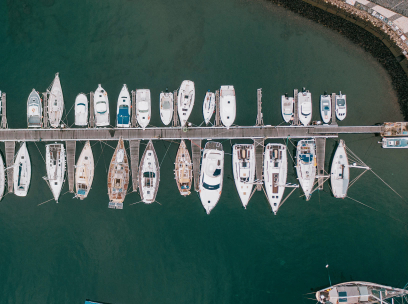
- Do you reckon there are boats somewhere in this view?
Yes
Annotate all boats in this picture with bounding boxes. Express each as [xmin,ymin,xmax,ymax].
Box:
[75,92,88,126]
[174,137,193,195]
[75,139,94,201]
[220,84,237,131]
[106,131,130,207]
[94,79,110,127]
[234,144,266,209]
[331,137,405,206]
[300,268,408,304]
[178,79,196,127]
[42,143,67,204]
[287,137,335,201]
[118,79,132,127]
[27,87,43,127]
[261,143,302,215]
[278,92,292,125]
[46,70,64,127]
[198,140,225,216]
[11,141,31,196]
[136,137,171,204]
[298,89,313,127]
[203,91,216,126]
[379,137,408,148]
[335,92,347,122]
[319,91,331,124]
[160,88,174,126]
[136,88,152,133]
